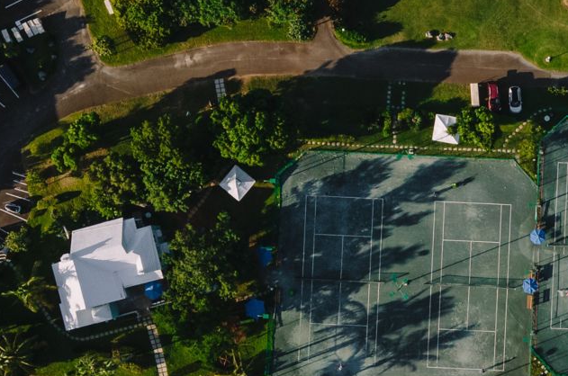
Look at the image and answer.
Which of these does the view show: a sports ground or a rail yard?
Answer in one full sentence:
It's a sports ground.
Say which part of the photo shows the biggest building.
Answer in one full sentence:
The biggest building is in the bottom left part of the image.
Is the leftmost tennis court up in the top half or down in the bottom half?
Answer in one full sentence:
Seen from above, the leftmost tennis court lies in the bottom half of the view.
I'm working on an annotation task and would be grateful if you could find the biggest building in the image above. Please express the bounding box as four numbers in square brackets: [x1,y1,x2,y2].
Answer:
[53,217,167,330]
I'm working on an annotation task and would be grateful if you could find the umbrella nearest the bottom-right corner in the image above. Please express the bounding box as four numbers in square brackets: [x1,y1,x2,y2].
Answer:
[522,277,538,293]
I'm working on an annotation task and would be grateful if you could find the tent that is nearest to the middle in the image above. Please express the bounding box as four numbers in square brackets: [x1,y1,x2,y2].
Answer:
[221,166,255,201]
